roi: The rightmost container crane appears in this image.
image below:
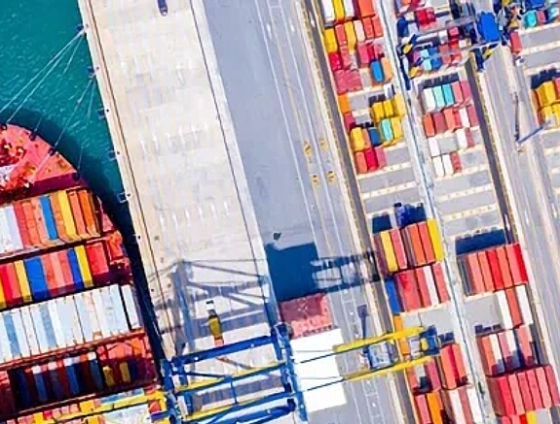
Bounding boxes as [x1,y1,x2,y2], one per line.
[495,0,560,45]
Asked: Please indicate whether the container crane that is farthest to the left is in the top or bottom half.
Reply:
bottom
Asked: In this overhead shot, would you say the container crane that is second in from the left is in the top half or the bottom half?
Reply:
top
